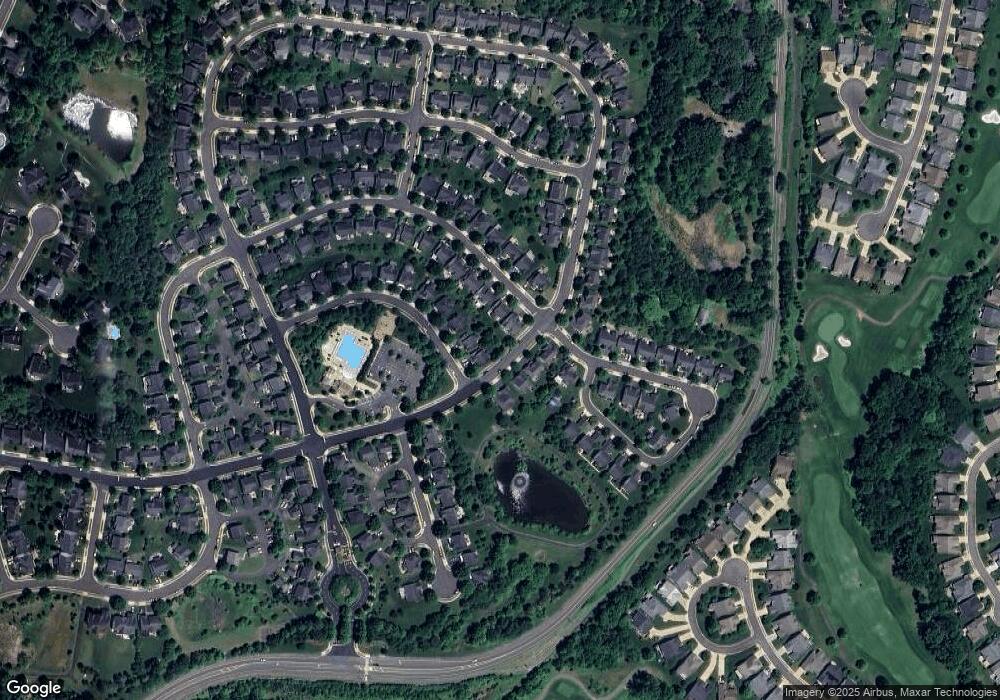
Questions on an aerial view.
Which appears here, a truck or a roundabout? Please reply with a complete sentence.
I can see a roundabout in this picture.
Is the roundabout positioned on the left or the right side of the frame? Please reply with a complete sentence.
You can find the roundabout on the left side of the picture.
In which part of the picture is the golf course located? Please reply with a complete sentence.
The golf course sits in the right section of the image.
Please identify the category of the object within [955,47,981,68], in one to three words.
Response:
house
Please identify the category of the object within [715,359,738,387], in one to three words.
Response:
house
